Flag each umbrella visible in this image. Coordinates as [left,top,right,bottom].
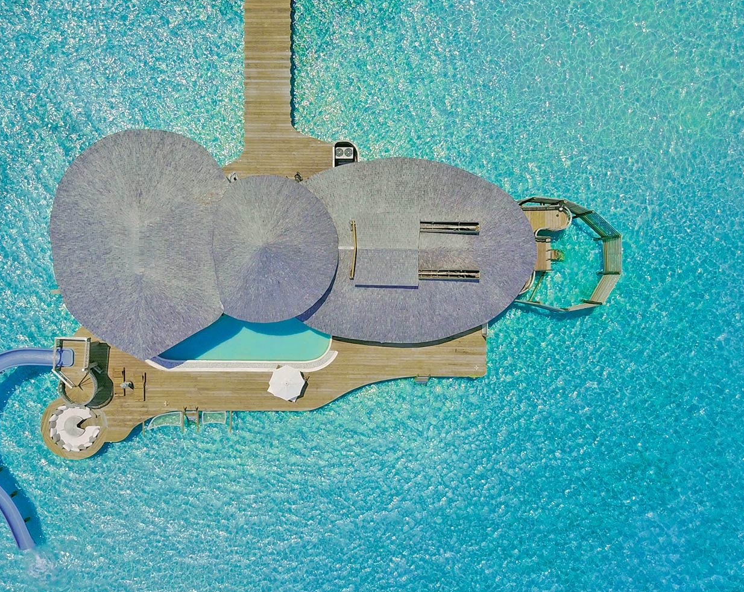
[270,365,305,400]
[121,381,134,390]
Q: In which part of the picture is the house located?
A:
center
